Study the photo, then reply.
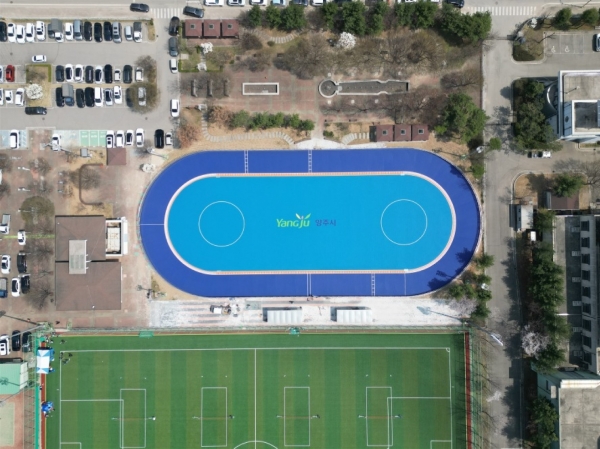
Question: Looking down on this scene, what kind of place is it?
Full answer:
The picture captures a sports ground.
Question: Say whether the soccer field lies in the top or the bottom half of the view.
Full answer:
It is in the bottom half that the soccer field appears.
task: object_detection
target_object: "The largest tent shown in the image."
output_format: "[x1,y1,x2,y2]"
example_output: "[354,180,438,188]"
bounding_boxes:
[38,347,55,373]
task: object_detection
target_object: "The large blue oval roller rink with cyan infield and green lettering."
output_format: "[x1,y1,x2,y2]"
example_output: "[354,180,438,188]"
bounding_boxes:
[137,147,483,300]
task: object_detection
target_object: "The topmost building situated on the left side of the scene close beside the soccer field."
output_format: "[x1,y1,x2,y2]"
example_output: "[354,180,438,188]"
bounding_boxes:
[54,215,132,312]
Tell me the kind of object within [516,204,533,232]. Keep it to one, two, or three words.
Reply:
building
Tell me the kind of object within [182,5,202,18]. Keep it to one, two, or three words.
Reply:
vehicle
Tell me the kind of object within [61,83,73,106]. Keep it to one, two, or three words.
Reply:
vehicle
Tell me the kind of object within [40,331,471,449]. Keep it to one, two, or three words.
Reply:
soccer field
